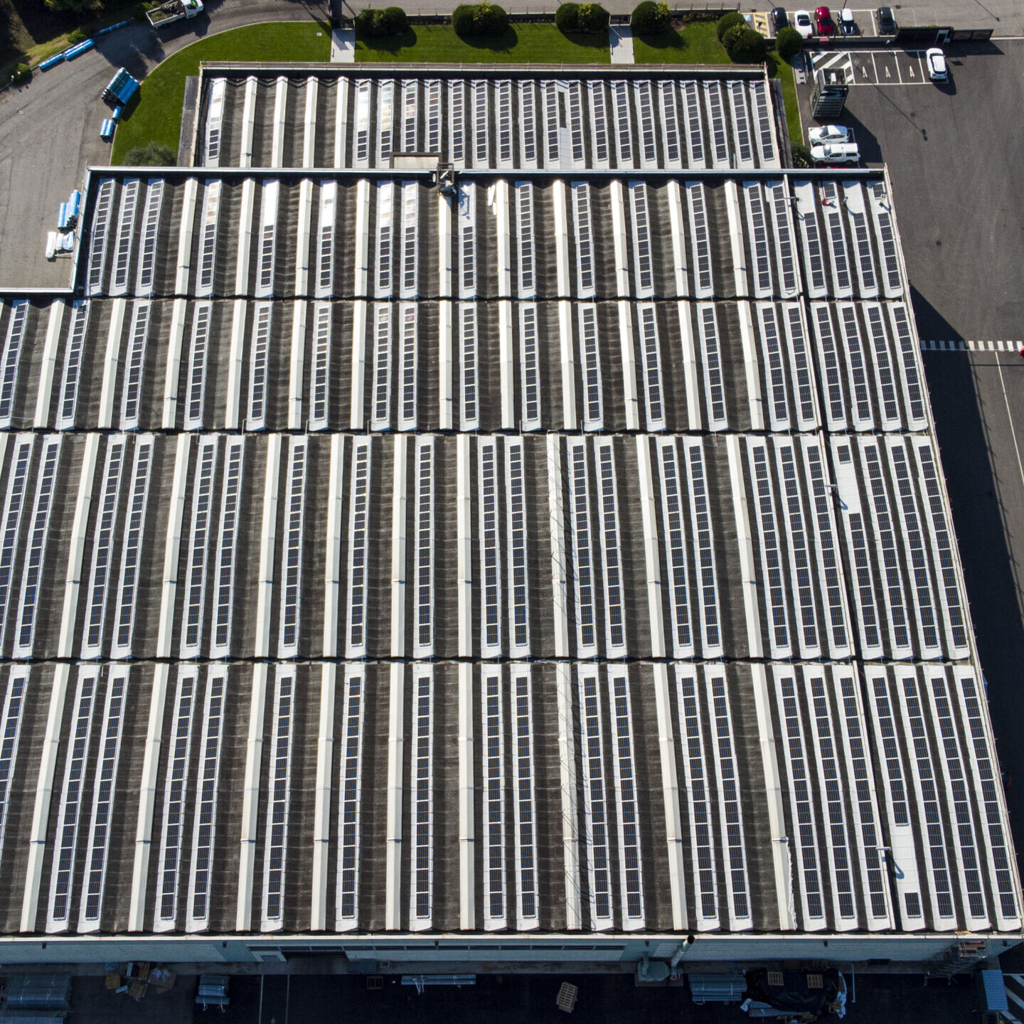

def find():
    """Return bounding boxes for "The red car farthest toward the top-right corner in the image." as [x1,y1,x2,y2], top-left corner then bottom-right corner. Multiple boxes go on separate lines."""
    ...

[815,5,834,33]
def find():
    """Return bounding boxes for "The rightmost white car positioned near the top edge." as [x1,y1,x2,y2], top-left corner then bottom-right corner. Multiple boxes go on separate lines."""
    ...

[928,47,949,76]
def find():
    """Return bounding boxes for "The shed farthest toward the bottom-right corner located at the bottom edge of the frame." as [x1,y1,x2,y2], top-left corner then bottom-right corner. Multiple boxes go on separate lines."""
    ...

[973,970,1008,1014]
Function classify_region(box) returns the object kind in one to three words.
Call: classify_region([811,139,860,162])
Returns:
truck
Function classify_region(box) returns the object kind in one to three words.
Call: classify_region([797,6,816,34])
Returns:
car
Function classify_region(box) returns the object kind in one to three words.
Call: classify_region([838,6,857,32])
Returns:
car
